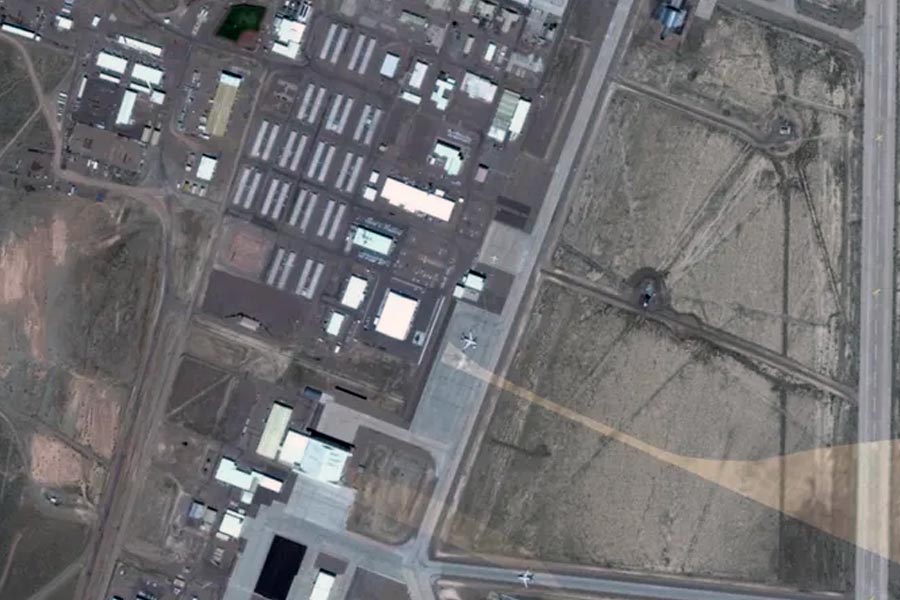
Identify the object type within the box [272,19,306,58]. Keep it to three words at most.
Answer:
building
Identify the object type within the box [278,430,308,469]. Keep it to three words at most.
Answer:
hangar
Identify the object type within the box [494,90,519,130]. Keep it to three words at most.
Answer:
hangar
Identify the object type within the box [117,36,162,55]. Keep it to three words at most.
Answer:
building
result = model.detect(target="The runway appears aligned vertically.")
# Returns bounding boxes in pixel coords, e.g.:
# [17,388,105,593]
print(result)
[856,0,898,600]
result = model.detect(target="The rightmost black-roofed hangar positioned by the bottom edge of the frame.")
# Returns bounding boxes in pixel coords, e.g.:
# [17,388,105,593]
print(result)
[255,535,308,600]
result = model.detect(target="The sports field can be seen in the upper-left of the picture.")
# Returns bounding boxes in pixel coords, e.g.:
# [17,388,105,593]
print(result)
[217,4,265,41]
